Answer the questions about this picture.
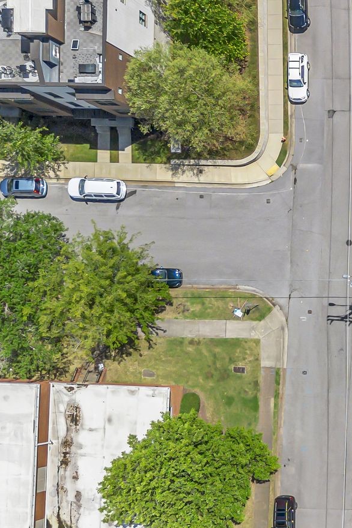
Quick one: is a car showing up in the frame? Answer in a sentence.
Yes, there's a car here.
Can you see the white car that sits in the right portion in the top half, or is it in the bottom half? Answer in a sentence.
It is in the top half that the white car that sits in the right portion appears.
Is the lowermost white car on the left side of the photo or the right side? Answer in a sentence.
The lowermost white car is on the left side of the image.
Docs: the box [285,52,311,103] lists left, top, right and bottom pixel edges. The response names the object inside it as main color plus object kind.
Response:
white car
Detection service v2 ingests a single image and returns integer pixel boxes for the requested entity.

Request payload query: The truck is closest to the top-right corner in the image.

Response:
[286,0,311,36]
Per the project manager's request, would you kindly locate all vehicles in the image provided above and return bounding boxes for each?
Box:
[70,176,127,202]
[285,52,311,103]
[151,266,186,288]
[274,496,298,528]
[0,178,49,198]
[286,0,311,36]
